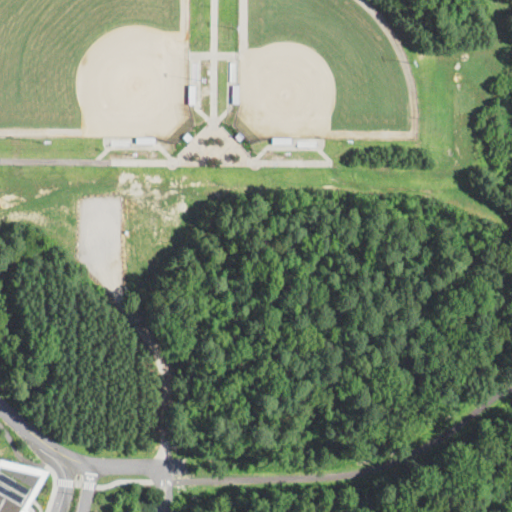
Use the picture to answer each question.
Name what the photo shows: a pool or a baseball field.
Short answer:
baseball field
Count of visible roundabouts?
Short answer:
none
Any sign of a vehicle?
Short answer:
No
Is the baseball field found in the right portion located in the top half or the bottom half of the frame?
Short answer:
top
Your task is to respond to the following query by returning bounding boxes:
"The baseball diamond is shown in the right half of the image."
[236,0,418,141]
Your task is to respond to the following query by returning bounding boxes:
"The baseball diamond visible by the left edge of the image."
[0,0,192,140]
